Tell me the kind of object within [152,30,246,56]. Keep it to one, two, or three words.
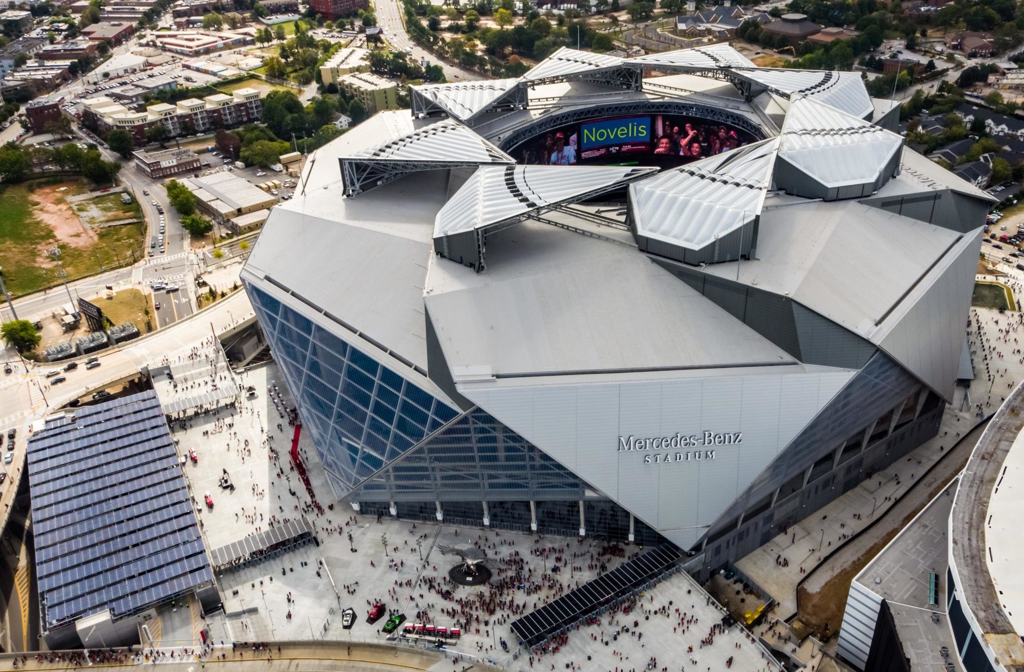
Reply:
building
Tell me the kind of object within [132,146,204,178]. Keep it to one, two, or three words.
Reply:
building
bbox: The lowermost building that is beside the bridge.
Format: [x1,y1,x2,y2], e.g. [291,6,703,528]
[29,390,223,659]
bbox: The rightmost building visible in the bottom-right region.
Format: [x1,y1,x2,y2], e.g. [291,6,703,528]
[838,466,967,672]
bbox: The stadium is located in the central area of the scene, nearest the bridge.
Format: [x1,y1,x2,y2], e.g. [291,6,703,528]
[240,34,996,593]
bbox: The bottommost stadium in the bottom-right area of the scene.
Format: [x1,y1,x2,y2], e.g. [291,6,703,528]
[944,382,1024,672]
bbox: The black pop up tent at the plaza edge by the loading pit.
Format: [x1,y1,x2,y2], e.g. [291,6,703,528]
[714,604,745,635]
